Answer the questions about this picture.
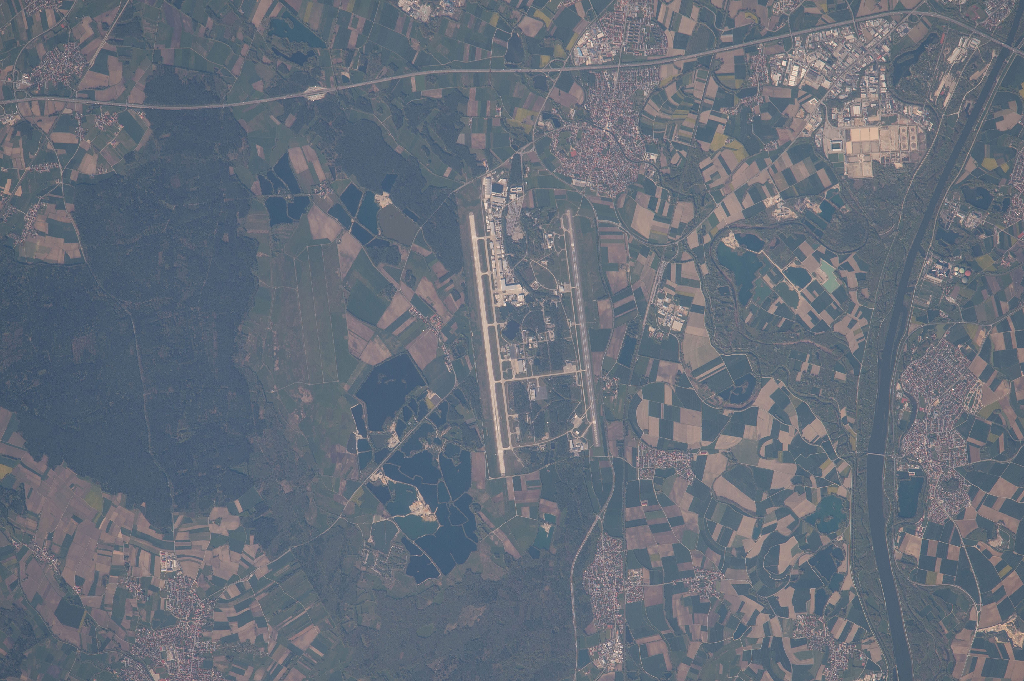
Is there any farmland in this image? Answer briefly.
Yes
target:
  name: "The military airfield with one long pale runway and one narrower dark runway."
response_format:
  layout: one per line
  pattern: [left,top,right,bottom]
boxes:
[469,172,599,477]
